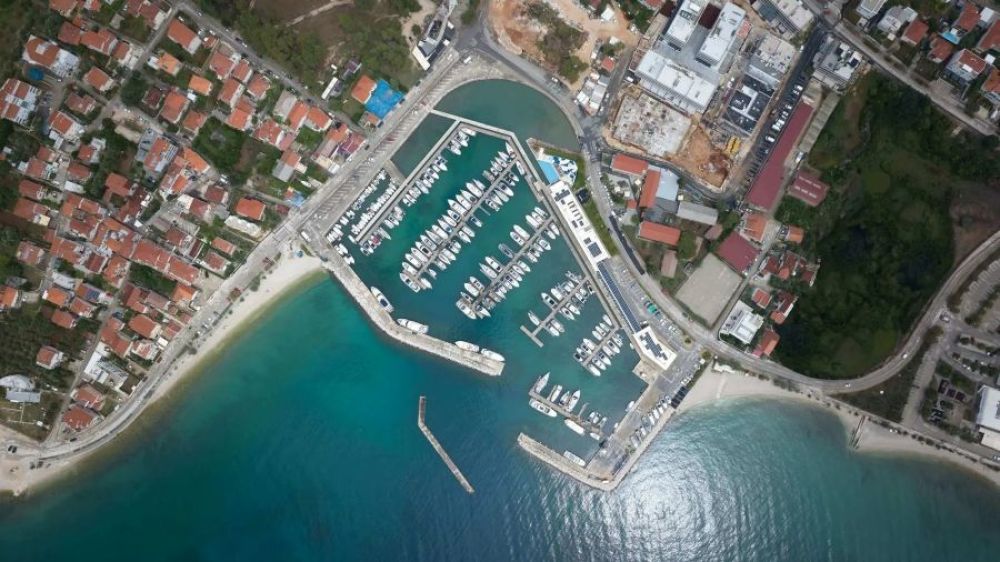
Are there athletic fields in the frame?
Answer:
Yes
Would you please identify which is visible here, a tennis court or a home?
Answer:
home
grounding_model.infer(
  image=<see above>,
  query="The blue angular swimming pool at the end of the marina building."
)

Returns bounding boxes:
[537,155,577,186]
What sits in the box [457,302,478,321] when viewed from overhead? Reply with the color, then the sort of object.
white boat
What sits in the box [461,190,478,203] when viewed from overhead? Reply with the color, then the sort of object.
white boat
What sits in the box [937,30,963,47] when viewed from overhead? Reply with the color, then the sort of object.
blue swimming pool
